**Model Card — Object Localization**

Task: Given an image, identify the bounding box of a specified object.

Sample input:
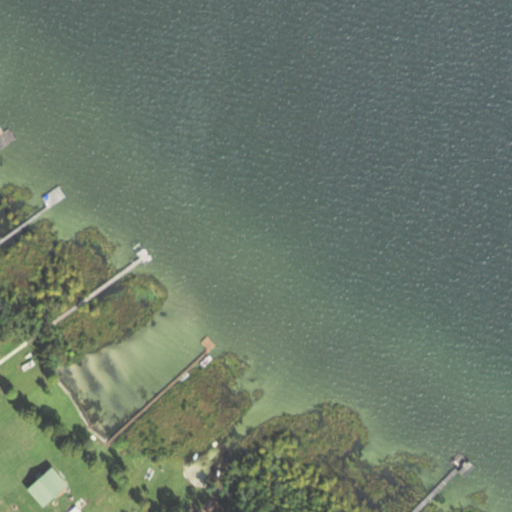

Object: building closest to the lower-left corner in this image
[26,469,68,509]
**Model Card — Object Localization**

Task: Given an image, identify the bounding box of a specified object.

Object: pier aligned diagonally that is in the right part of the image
[410,461,475,512]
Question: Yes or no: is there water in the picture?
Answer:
Yes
